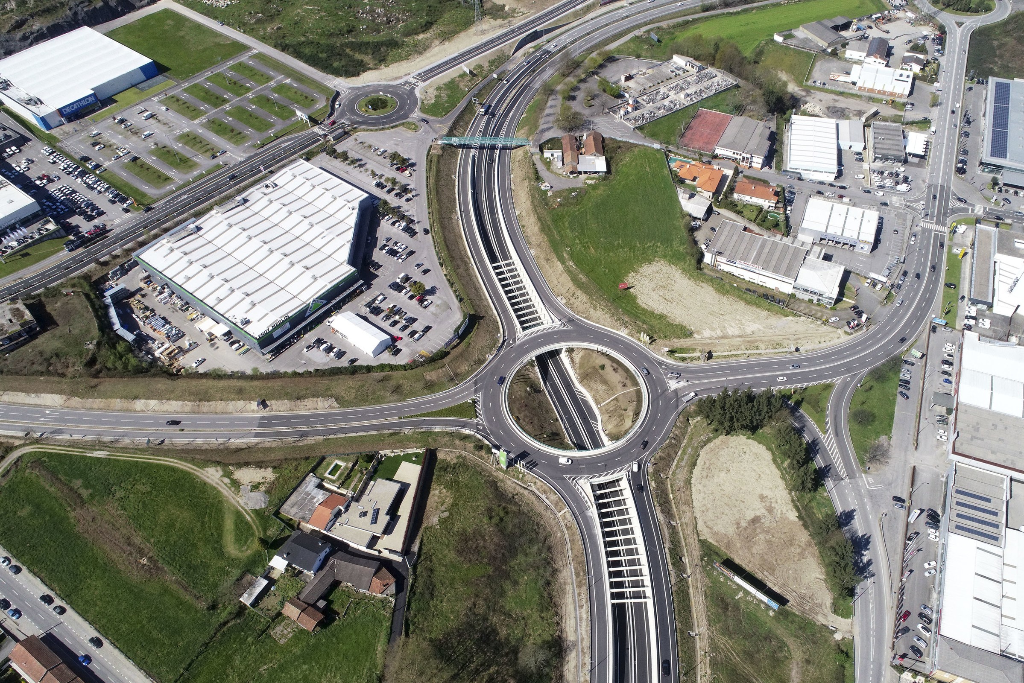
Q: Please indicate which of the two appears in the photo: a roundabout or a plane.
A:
roundabout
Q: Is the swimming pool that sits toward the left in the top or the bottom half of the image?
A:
bottom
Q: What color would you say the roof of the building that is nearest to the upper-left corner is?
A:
white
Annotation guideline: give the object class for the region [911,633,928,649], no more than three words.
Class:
car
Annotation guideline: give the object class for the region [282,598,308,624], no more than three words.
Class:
barn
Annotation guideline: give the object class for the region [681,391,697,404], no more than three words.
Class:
vehicle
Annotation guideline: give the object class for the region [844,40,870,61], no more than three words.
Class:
house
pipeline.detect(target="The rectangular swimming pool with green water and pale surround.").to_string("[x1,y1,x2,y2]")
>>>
[325,459,346,479]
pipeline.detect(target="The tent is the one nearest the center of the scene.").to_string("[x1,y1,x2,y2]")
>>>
[326,311,393,360]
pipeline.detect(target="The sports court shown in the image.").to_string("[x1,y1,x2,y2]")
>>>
[680,108,732,152]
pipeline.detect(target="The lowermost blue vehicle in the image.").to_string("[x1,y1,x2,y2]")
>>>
[77,653,93,667]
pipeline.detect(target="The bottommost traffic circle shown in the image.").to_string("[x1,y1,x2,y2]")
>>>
[476,325,676,479]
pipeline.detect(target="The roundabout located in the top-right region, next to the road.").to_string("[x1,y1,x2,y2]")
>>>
[908,0,1013,22]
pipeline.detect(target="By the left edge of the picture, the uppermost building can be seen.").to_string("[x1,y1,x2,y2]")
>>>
[0,26,157,130]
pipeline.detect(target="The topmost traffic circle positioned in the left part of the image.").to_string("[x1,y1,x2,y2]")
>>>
[337,84,418,126]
